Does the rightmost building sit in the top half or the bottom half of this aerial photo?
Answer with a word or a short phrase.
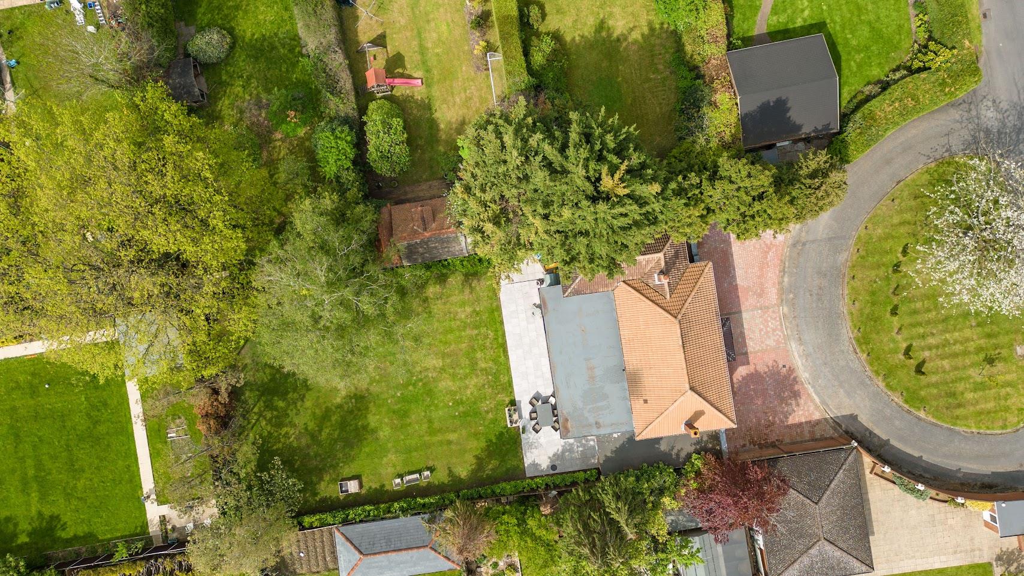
bottom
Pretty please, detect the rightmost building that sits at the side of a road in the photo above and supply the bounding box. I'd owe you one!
[970,489,1024,538]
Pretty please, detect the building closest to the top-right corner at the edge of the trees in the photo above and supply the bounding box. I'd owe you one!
[727,32,840,150]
